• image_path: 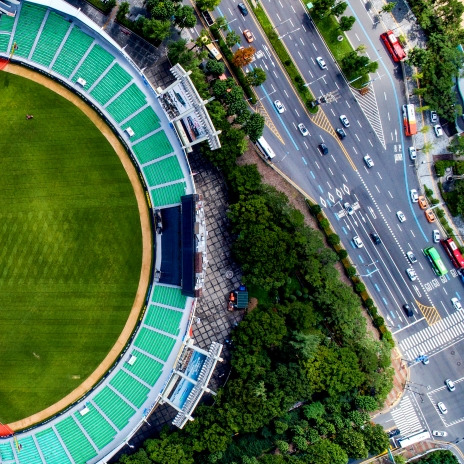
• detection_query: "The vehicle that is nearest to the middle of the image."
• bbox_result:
[257,133,278,159]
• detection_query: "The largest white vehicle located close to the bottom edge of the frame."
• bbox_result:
[398,431,435,449]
